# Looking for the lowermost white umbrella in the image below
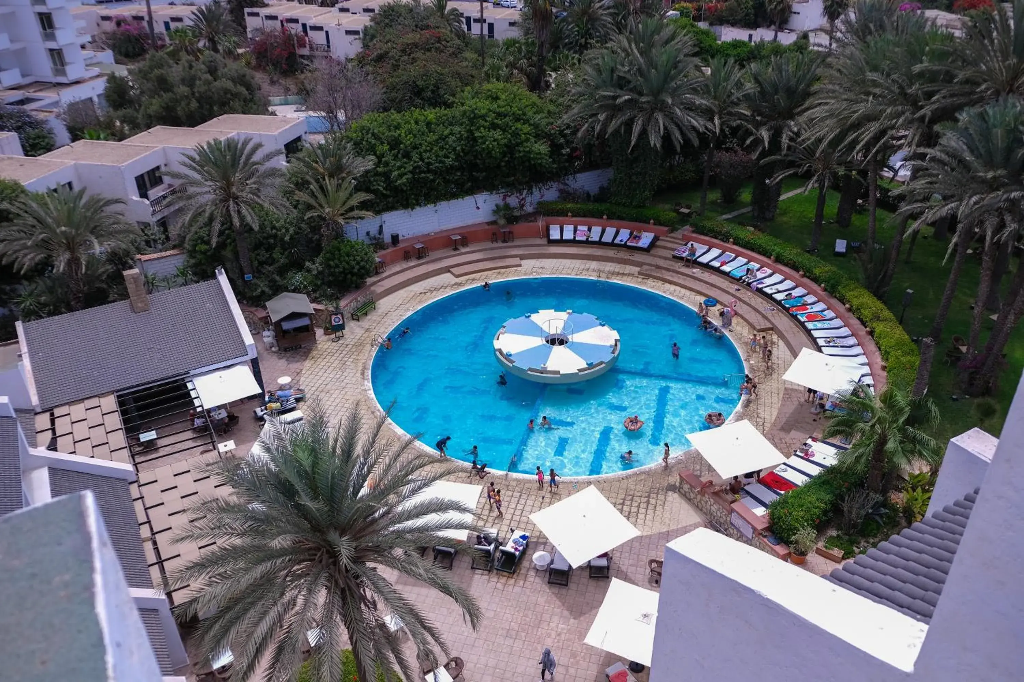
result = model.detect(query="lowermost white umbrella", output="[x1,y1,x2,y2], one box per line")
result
[569,573,661,682]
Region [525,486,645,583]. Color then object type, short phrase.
white umbrella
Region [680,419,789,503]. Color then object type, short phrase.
white umbrella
